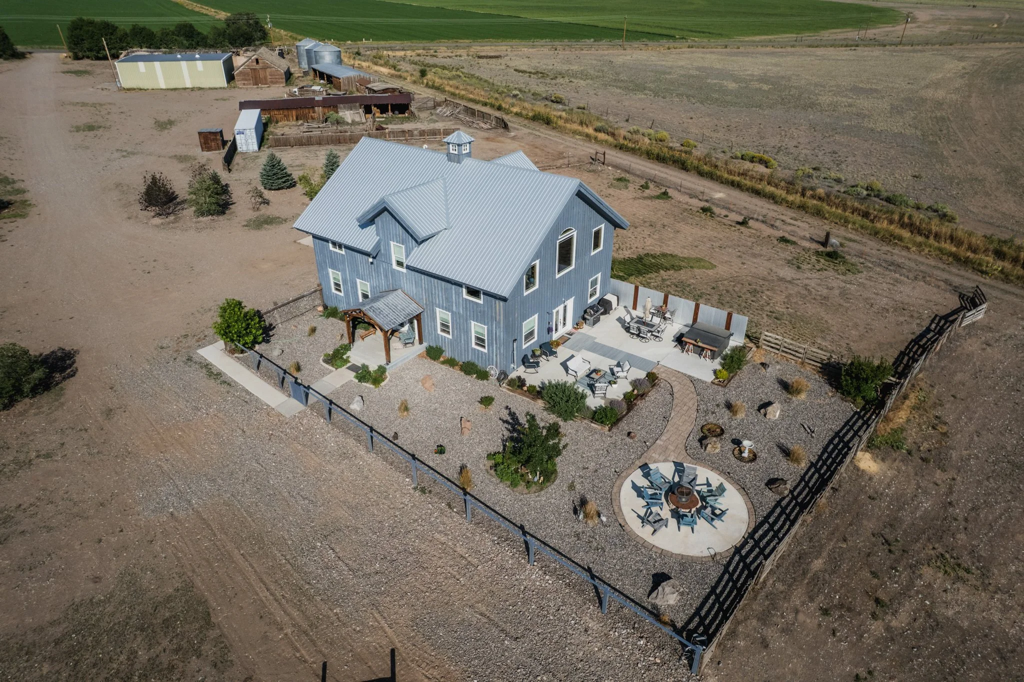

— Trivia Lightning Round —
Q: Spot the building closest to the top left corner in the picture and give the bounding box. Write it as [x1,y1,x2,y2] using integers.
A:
[114,52,237,87]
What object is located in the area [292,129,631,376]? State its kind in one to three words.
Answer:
house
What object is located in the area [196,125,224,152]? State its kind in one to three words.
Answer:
shed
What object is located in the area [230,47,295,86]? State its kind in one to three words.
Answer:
barn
